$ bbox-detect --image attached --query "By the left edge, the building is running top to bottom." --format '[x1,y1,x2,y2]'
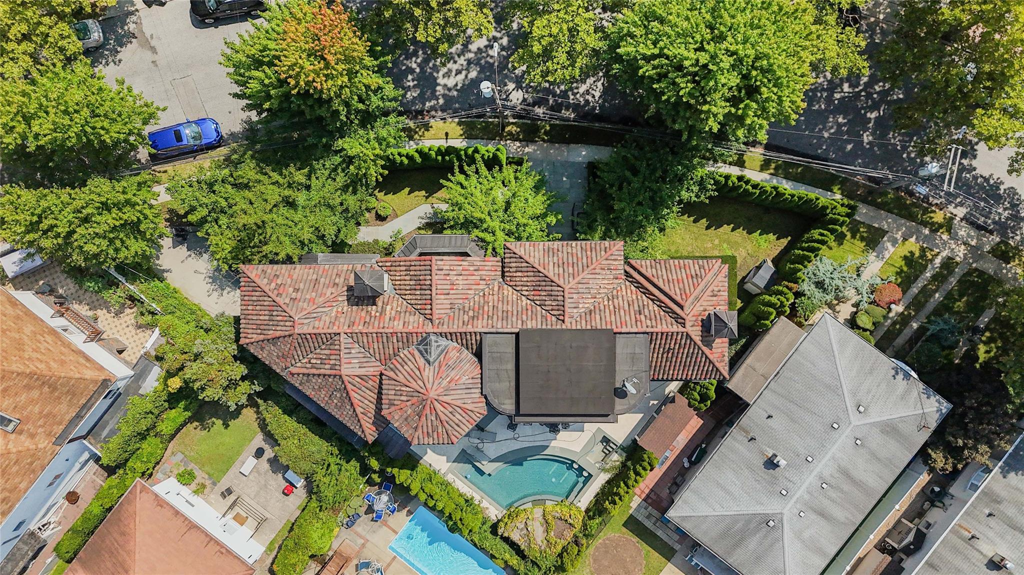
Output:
[0,267,134,575]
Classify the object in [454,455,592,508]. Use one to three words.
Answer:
swimming pool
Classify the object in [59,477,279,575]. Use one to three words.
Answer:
house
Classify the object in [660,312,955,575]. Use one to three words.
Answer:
house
